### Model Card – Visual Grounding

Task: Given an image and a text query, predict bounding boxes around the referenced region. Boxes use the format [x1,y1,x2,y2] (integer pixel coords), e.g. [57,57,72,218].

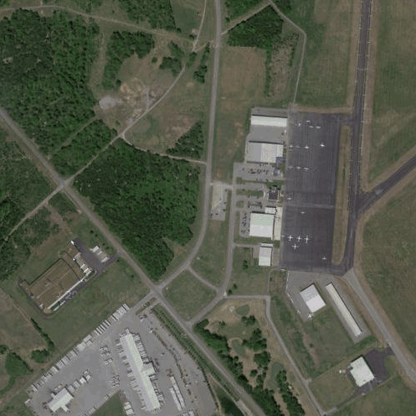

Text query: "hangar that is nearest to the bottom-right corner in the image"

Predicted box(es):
[351,356,374,387]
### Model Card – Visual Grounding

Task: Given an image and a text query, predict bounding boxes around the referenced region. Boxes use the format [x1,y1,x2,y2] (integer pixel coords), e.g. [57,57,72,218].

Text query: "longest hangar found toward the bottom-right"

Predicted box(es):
[326,282,363,337]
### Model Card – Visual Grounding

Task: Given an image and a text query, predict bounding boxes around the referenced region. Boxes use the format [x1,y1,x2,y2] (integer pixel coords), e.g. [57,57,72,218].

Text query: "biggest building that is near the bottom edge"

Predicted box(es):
[119,332,160,412]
